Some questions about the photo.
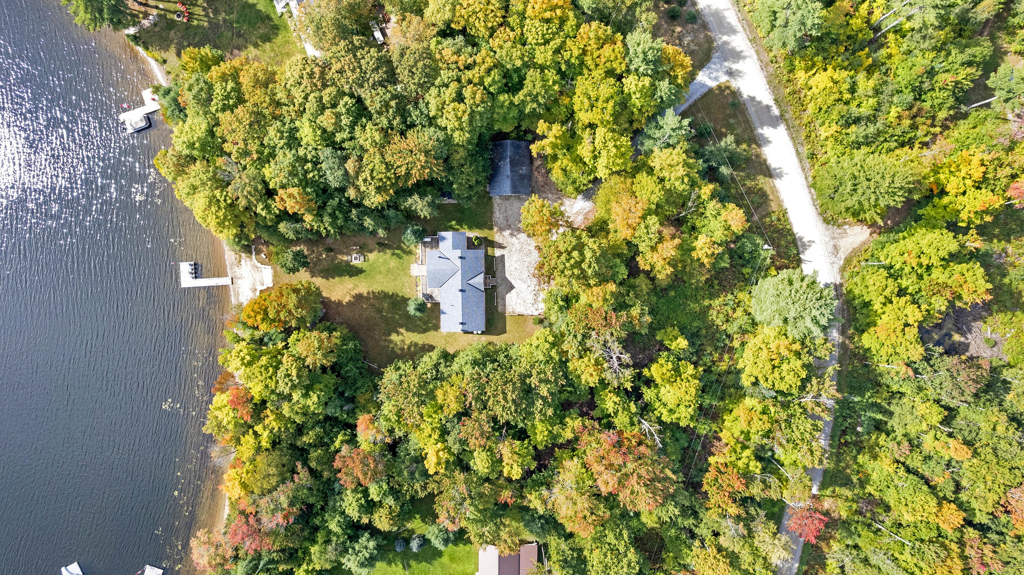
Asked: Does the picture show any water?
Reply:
Yes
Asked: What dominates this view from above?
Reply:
trees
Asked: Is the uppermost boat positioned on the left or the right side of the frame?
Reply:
left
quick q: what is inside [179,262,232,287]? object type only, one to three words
pier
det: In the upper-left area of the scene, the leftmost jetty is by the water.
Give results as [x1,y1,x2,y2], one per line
[119,88,162,122]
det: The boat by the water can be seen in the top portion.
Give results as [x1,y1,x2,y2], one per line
[120,114,154,135]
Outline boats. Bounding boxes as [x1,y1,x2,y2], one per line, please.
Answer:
[61,560,86,575]
[120,114,154,135]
